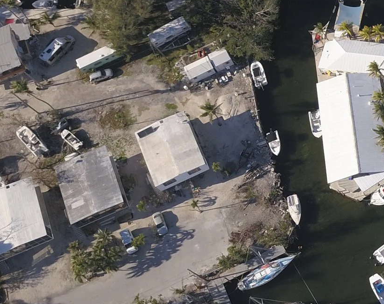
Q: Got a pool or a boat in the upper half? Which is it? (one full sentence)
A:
It is a boat that can be seen in the upper half.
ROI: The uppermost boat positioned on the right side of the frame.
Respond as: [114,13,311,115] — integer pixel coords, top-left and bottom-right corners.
[251,62,269,89]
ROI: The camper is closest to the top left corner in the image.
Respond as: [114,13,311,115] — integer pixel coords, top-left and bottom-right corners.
[41,34,86,70]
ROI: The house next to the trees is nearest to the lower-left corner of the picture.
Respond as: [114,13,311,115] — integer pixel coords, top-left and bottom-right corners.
[0,178,61,273]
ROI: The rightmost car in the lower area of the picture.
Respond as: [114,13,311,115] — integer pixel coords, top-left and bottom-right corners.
[153,211,170,237]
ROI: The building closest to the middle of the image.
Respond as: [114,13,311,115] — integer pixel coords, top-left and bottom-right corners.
[136,112,213,195]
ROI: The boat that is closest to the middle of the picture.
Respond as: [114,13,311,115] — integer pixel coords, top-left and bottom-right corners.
[265,129,281,155]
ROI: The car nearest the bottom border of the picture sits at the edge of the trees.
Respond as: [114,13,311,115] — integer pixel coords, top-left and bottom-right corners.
[119,229,139,256]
